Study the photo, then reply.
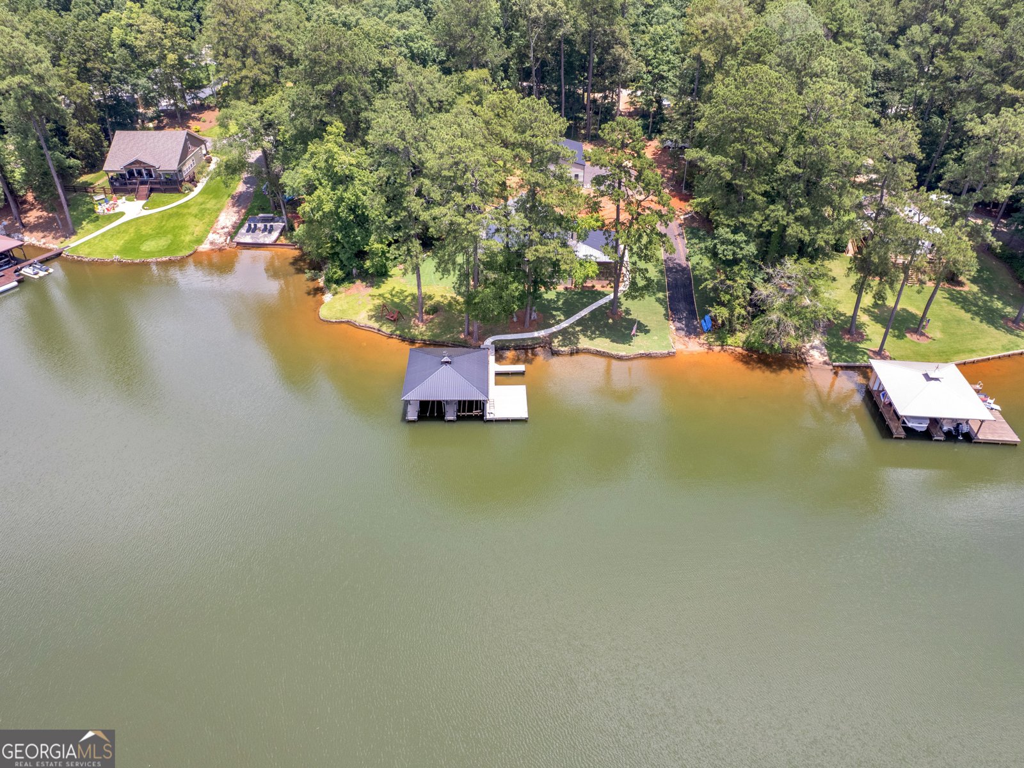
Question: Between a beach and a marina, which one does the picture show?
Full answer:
It's a marina.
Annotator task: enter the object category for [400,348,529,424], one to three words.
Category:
building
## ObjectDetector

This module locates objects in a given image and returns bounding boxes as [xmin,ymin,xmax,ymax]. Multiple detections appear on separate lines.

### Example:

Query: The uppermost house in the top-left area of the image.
[103,130,216,198]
